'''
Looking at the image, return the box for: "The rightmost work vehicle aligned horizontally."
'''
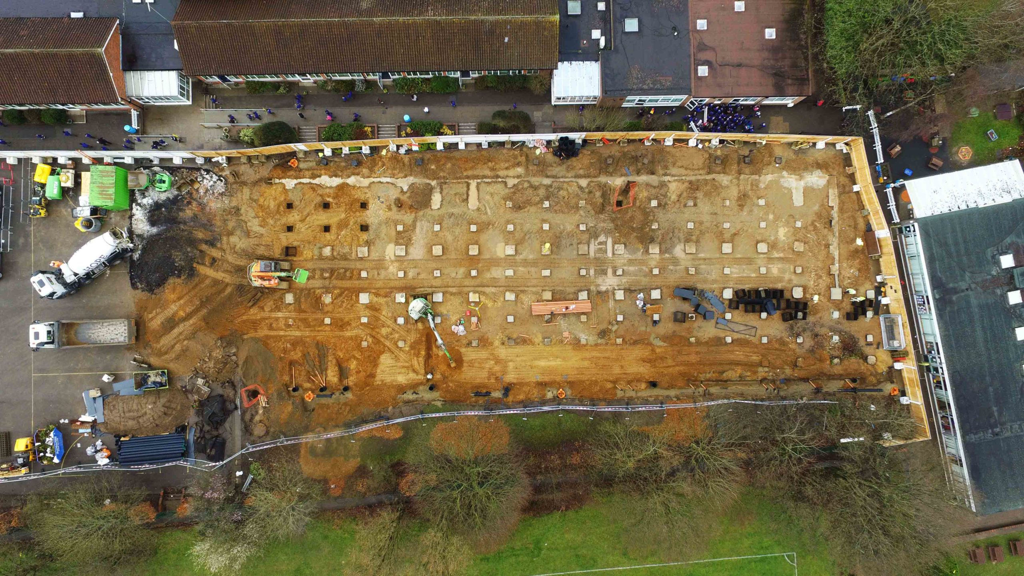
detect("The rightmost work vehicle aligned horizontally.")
[243,261,310,288]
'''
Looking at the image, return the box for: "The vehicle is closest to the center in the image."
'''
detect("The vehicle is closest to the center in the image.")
[411,290,456,368]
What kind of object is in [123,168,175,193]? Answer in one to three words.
truck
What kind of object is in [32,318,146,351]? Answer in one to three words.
truck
